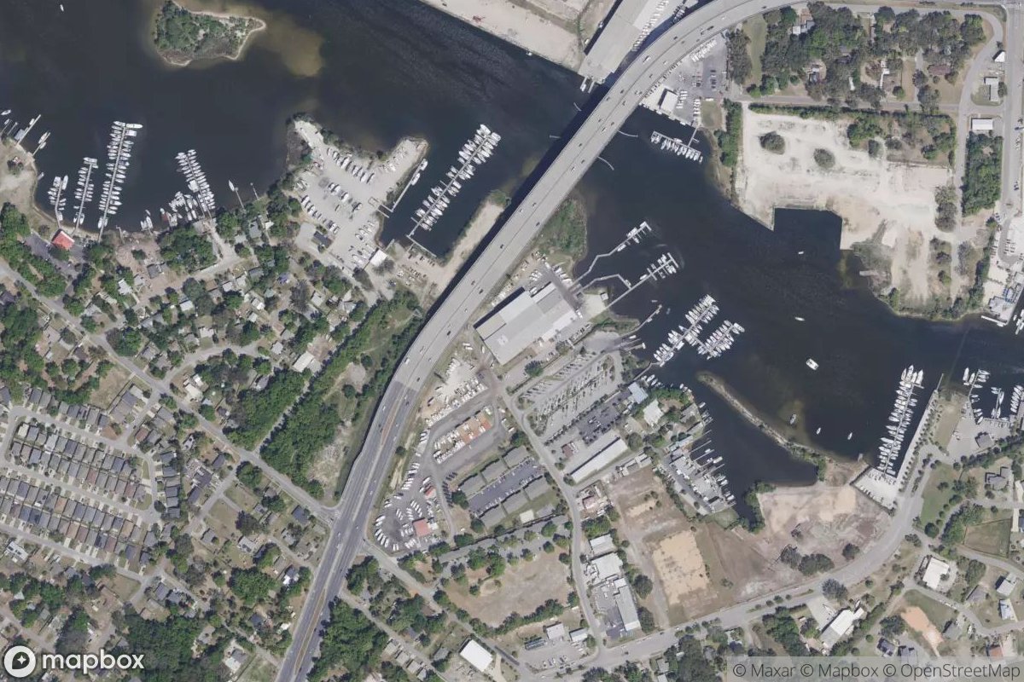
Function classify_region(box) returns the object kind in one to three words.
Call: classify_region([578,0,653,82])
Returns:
shed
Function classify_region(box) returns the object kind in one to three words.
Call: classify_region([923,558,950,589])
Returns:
house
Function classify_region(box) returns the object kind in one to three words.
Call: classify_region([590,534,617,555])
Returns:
building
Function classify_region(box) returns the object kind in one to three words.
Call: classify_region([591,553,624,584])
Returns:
building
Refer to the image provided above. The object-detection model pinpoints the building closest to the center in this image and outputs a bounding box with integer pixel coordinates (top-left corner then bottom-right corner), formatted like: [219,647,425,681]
[476,283,576,365]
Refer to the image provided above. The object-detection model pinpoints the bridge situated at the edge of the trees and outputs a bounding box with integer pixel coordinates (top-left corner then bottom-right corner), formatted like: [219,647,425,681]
[394,0,806,388]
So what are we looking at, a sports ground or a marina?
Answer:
marina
